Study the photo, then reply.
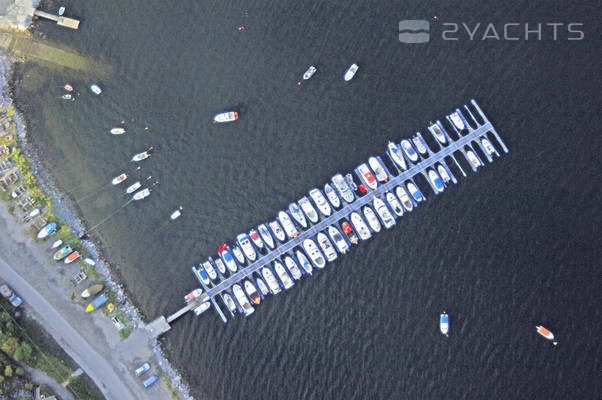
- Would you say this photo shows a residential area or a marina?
marina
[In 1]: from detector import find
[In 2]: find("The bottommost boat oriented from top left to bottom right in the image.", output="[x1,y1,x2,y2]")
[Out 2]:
[537,325,554,339]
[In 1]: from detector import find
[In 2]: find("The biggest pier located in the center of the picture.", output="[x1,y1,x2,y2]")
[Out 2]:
[192,99,507,322]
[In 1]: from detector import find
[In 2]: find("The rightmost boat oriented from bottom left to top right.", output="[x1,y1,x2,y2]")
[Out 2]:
[345,63,359,80]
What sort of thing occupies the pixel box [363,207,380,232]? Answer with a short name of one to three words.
boat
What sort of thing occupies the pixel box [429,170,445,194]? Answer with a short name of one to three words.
boat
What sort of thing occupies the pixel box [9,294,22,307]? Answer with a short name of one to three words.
vehicle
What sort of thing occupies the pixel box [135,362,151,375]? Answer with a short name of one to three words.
vehicle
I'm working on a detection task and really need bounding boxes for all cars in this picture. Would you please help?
[9,294,22,307]
[143,374,159,386]
[135,362,151,375]
[0,283,13,299]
